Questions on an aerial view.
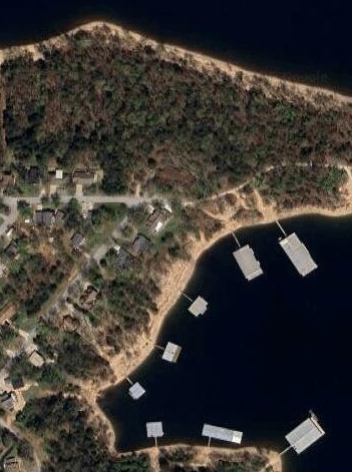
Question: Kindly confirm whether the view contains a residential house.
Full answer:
Yes, you can see a residential house in this photo.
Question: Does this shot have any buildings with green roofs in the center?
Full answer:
No, there is no building with a green roof in the center.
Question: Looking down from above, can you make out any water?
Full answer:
Yes, water can be seen from above here.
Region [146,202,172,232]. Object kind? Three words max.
house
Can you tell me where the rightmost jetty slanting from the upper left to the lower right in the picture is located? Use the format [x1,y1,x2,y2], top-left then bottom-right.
[276,219,317,277]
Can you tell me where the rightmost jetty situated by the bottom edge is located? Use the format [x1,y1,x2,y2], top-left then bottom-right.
[280,410,324,454]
